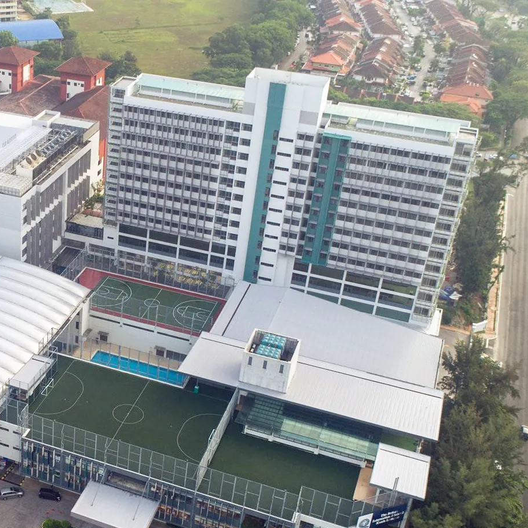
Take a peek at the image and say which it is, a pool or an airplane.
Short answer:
pool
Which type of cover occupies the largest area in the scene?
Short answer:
buildings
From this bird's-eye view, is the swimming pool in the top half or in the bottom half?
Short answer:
bottom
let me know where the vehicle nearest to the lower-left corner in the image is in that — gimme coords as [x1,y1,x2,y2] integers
[0,486,24,499]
